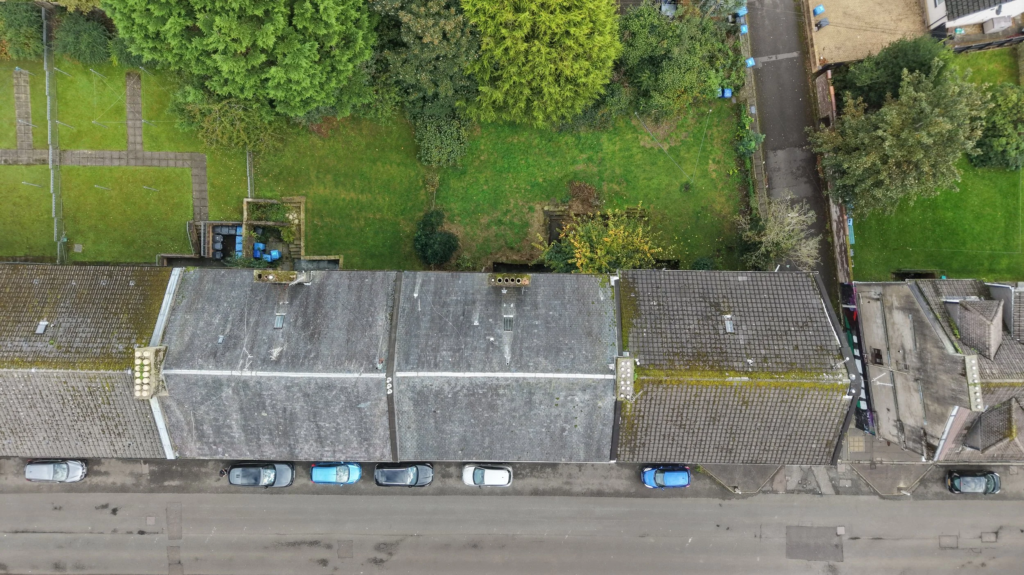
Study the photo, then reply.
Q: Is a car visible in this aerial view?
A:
Yes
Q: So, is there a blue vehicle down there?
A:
Yes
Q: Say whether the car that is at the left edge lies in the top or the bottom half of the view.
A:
bottom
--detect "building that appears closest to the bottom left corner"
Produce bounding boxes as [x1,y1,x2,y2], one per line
[0,263,184,460]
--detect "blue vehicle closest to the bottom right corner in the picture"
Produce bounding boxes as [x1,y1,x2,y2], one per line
[641,465,690,492]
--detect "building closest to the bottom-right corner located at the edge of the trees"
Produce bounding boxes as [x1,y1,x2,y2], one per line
[840,276,1024,461]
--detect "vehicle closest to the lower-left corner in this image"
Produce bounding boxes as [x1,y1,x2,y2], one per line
[24,459,90,487]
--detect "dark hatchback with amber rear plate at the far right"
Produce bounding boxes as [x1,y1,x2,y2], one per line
[943,468,997,498]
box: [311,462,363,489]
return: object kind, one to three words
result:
car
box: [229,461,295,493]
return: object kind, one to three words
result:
car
